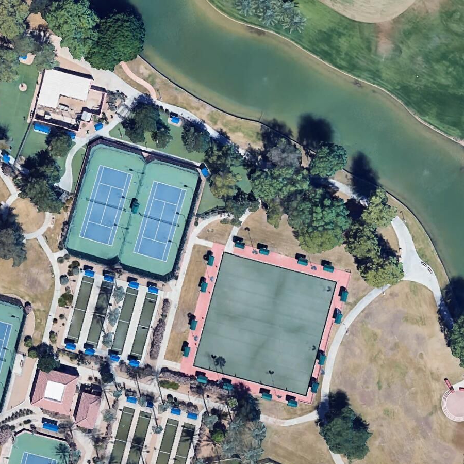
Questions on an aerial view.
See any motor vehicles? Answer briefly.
No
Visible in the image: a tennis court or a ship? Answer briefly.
tennis court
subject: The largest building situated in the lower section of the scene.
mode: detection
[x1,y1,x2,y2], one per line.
[31,369,79,416]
